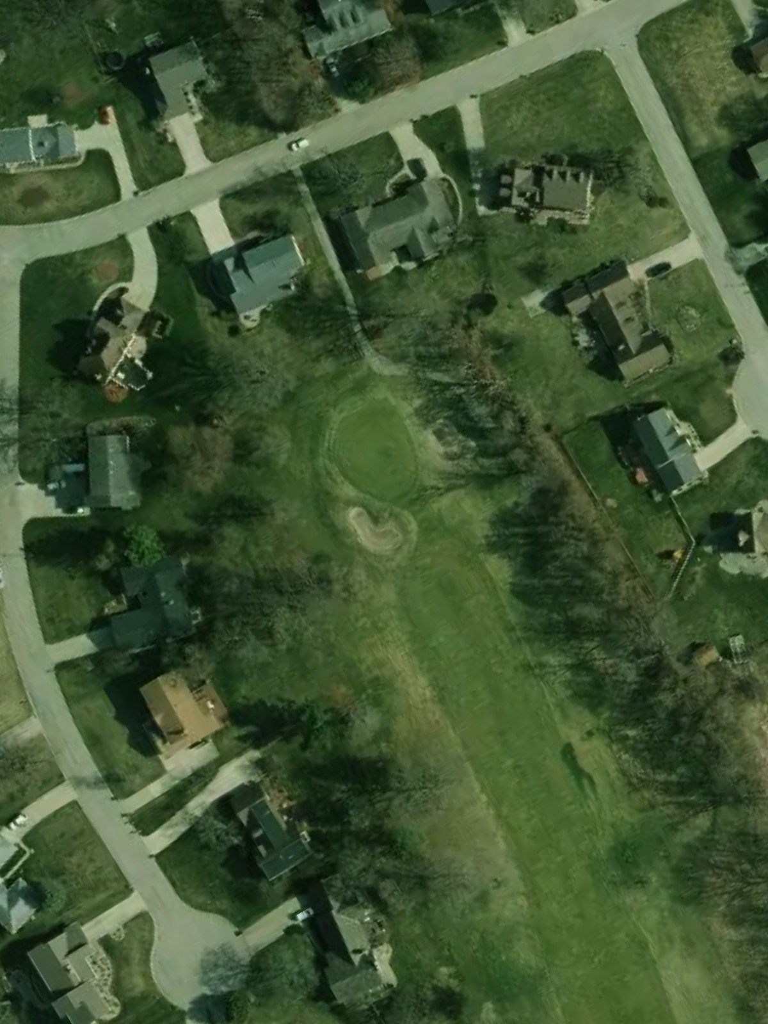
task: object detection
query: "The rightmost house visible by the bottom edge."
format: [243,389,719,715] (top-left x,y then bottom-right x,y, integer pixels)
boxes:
[313,869,379,1006]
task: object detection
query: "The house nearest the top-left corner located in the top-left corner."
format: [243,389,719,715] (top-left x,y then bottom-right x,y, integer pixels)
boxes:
[0,122,78,166]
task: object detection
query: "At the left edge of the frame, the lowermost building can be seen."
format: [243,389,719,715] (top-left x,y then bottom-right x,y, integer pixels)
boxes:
[27,921,115,1024]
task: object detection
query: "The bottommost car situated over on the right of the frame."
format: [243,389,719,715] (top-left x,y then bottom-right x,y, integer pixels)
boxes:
[648,263,669,277]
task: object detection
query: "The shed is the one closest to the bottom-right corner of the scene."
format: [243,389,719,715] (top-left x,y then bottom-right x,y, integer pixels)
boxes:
[692,642,720,668]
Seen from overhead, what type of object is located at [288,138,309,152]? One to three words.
car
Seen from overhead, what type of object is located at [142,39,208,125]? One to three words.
house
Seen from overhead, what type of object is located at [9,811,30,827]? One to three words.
vehicle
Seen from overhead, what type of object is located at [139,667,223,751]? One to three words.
house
